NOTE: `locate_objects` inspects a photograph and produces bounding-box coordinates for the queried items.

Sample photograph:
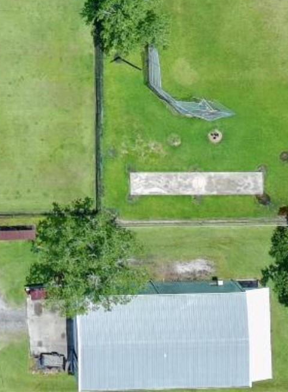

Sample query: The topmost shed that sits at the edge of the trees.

[0,225,36,243]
